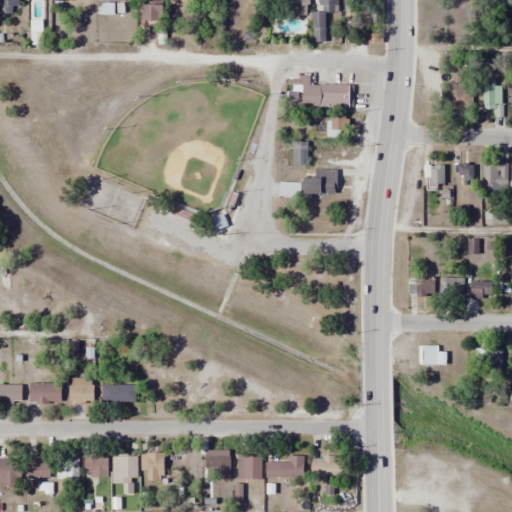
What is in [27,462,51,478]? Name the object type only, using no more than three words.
house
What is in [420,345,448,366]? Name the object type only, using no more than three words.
building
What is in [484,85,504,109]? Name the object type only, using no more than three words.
house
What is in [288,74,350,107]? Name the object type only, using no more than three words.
building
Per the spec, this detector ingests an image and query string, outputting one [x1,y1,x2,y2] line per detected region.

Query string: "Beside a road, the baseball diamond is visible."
[95,82,264,210]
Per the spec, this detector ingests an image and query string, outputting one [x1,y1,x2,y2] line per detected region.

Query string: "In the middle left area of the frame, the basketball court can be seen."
[90,182,146,228]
